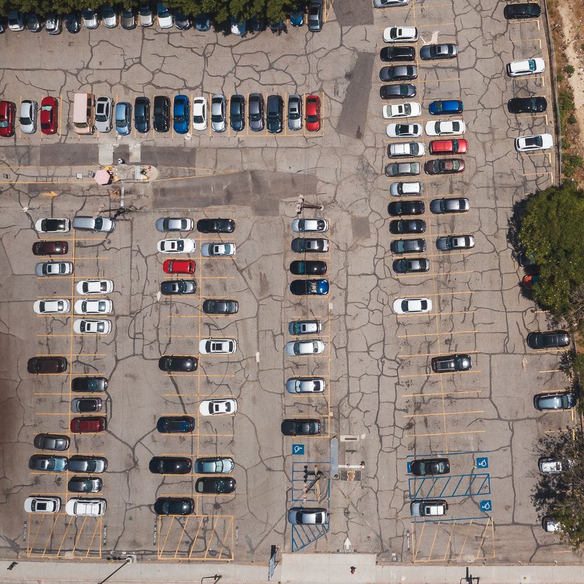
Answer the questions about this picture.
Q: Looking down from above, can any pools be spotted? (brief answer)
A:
No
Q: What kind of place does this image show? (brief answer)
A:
parking lot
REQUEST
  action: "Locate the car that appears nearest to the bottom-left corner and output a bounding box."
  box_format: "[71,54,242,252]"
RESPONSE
[24,496,60,515]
